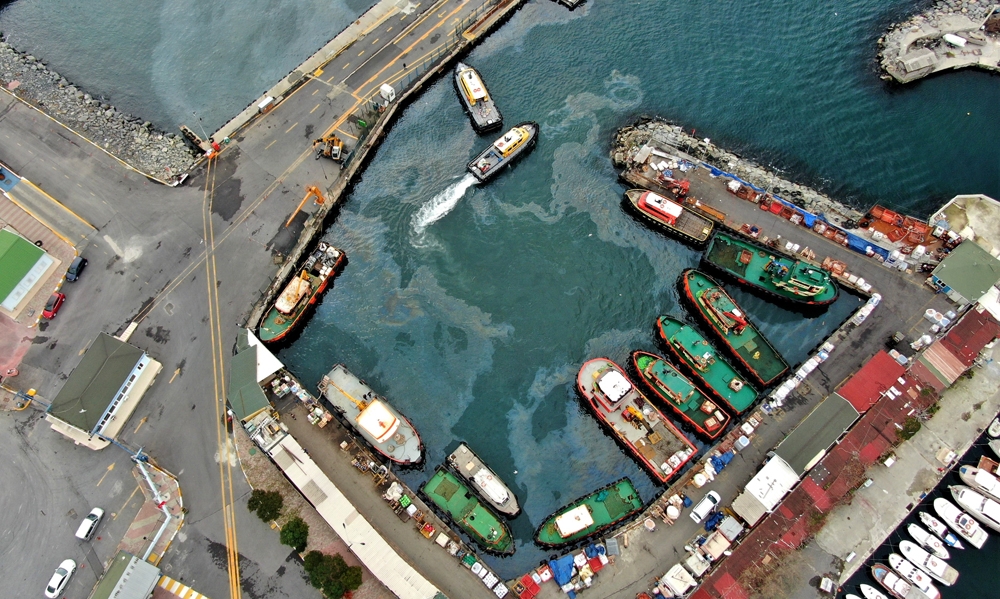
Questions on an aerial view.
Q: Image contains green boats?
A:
Yes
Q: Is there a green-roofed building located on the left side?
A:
Yes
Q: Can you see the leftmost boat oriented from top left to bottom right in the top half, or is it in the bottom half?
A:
bottom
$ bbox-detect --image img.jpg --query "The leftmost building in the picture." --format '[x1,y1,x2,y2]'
[0,229,61,321]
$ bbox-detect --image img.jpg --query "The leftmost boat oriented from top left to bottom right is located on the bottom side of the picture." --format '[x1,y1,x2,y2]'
[310,367,426,468]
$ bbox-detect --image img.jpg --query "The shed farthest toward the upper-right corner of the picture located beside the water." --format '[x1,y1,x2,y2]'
[895,48,938,81]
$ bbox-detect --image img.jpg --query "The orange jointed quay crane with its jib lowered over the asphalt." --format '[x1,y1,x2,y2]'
[286,183,328,226]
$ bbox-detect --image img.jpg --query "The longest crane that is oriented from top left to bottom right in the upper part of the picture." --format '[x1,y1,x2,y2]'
[652,157,698,194]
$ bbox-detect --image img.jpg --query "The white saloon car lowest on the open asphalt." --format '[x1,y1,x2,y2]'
[42,558,79,599]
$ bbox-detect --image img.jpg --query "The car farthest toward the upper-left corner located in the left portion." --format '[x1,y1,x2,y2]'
[63,253,91,283]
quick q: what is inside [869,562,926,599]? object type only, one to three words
boat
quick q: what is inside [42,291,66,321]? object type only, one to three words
car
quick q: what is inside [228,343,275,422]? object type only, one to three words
shed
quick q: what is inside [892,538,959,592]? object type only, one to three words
boat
